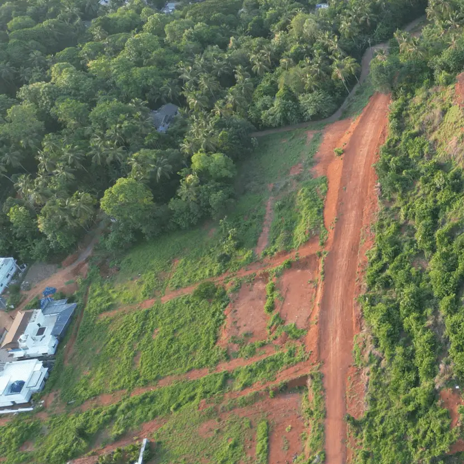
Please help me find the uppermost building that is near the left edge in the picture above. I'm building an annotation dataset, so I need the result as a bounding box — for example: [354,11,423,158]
[0,257,38,322]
